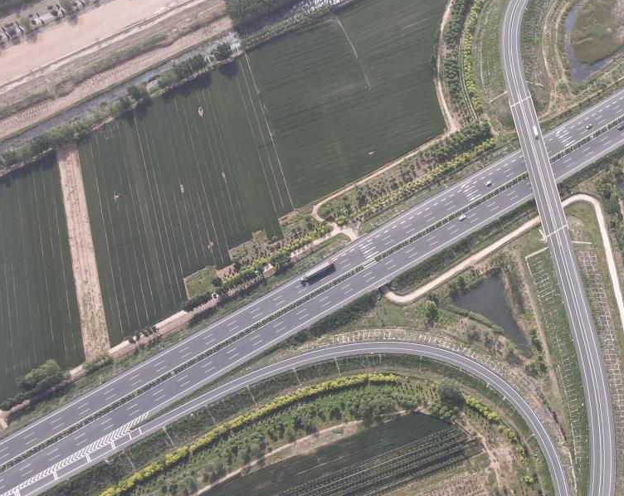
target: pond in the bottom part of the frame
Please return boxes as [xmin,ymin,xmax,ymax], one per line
[455,274,531,355]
